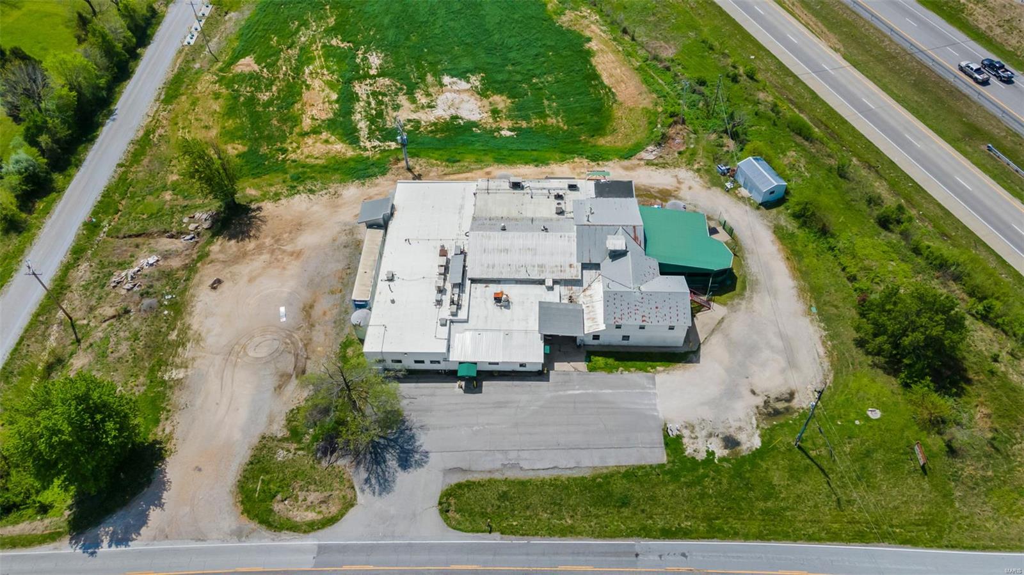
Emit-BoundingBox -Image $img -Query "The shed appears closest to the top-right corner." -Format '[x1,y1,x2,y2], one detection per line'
[742,158,791,203]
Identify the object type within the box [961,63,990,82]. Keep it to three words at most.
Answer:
vehicle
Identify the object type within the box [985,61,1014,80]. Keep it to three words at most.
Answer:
vehicle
